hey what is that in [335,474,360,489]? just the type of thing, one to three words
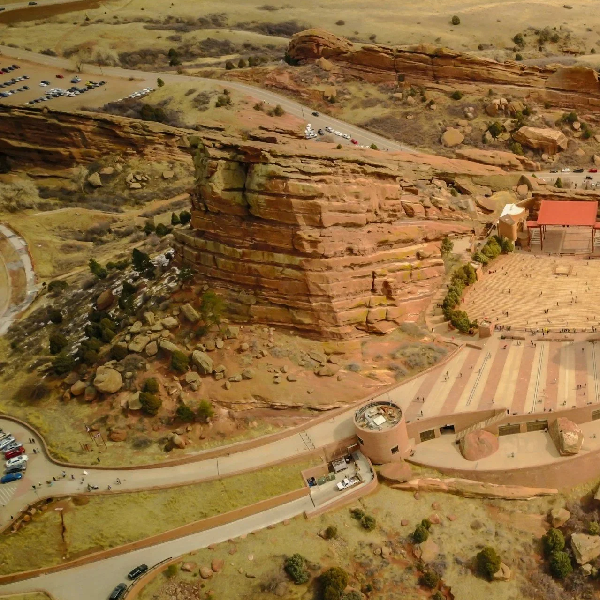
vehicle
